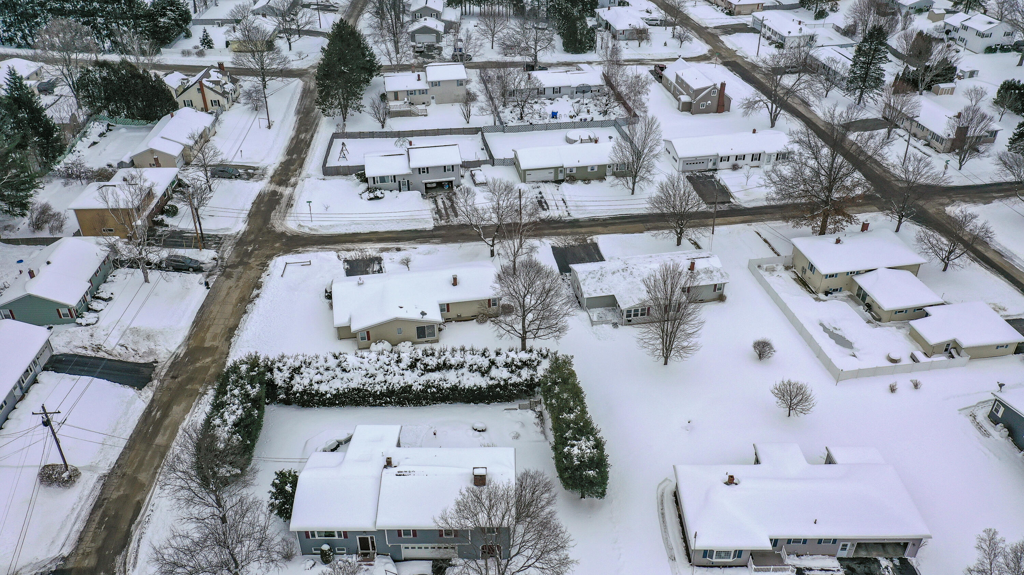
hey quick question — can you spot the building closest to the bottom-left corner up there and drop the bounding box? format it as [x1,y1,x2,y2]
[0,321,55,429]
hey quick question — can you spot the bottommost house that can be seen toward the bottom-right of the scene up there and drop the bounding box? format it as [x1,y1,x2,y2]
[670,441,931,575]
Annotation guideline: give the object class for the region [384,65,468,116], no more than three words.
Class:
house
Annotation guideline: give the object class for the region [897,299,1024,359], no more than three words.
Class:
building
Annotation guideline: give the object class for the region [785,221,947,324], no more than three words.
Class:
house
